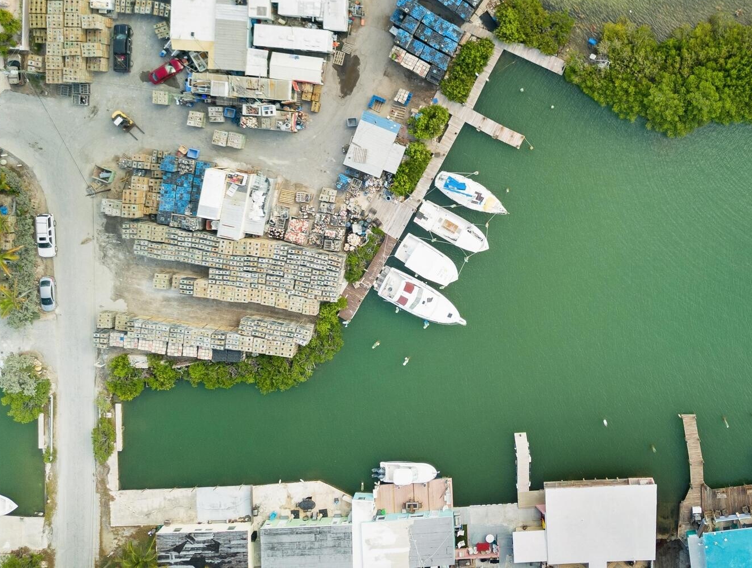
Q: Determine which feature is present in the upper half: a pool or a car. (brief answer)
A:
car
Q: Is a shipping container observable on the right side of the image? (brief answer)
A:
No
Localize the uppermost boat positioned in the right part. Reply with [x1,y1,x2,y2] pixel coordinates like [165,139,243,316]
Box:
[432,171,507,215]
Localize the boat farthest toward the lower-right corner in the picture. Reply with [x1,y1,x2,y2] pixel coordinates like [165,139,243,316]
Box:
[375,458,439,484]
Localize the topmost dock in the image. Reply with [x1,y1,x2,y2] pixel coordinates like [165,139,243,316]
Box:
[461,23,565,75]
